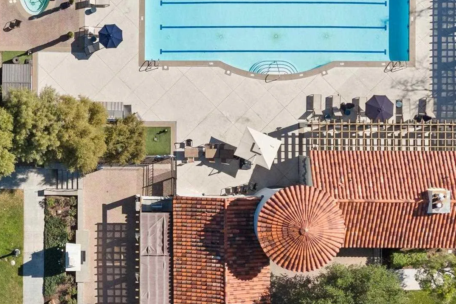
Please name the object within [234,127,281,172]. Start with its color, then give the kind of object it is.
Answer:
white umbrella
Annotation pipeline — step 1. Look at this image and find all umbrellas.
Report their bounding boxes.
[234,127,281,172]
[365,95,393,122]
[98,25,122,48]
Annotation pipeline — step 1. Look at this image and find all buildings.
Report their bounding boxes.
[2,63,34,109]
[173,150,456,304]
